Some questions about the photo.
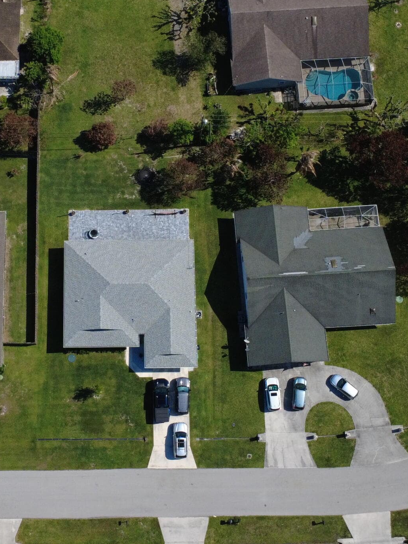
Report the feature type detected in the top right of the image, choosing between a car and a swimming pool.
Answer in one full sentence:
Visible in the top right of the image is a swimming pool.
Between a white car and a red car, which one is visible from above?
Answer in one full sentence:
The image shows a white car.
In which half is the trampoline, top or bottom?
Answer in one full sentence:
The top half of the photo is where the trampoline is.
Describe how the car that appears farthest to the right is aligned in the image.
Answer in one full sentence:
The car that appears farthest to the right has been laid out at an angle relative to the frame.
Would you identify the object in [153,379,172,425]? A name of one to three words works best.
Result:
vehicle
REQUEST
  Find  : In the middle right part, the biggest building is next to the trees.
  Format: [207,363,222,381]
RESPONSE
[233,204,395,367]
